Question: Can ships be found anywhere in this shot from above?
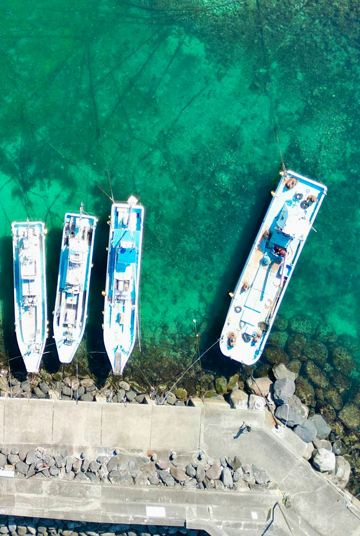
Yes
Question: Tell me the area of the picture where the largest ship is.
right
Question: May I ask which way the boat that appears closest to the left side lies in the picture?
from top to bottom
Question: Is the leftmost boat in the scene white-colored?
Yes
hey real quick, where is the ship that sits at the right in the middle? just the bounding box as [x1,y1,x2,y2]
[217,170,327,363]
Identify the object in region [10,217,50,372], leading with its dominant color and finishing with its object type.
white boat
